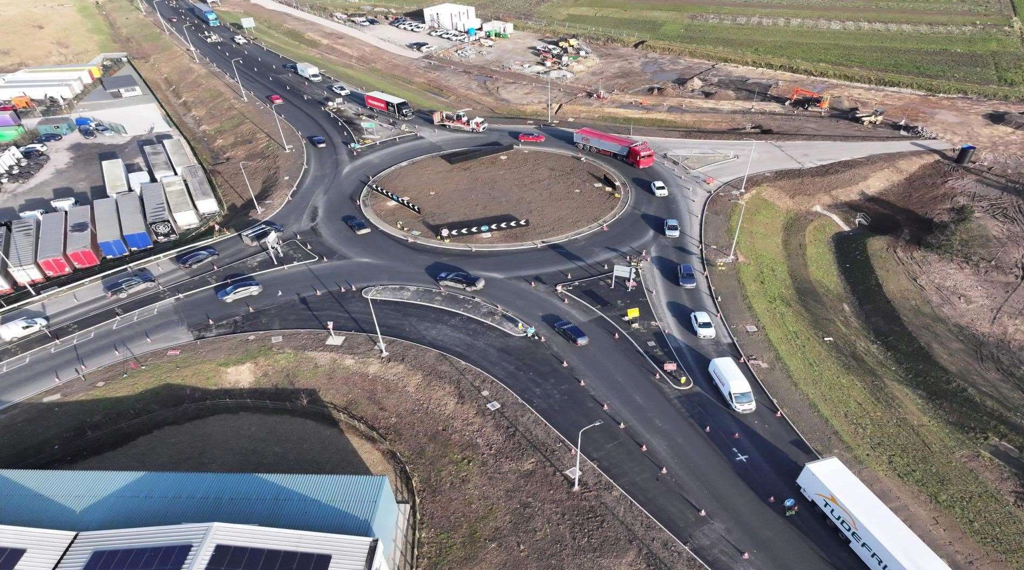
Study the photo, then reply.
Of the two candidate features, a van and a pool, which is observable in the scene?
van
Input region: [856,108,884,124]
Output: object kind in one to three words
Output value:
vehicle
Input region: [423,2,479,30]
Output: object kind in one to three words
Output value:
building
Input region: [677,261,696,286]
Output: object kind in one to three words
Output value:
car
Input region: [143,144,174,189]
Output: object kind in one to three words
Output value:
trailer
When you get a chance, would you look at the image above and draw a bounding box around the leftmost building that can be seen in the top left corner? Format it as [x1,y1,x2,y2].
[100,72,145,104]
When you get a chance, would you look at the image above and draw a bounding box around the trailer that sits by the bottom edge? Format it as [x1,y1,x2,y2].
[792,454,950,570]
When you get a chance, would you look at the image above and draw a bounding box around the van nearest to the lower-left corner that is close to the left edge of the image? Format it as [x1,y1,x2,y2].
[0,314,46,344]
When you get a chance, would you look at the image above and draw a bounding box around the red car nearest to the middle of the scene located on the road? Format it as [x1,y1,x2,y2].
[518,130,545,143]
